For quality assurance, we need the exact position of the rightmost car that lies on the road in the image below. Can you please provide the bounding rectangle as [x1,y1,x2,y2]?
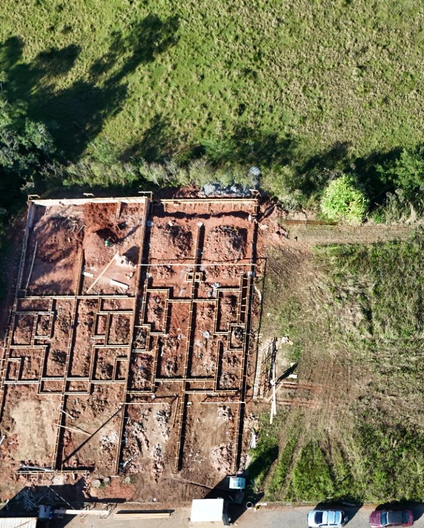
[370,509,414,528]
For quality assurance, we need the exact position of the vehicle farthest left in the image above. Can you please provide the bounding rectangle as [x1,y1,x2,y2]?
[306,509,347,528]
